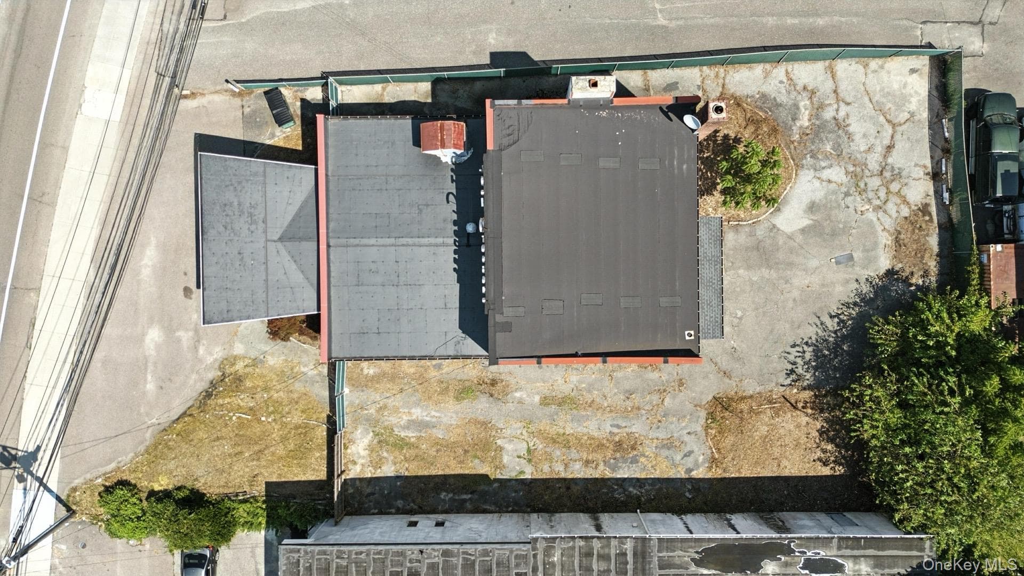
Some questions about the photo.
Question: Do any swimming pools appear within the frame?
No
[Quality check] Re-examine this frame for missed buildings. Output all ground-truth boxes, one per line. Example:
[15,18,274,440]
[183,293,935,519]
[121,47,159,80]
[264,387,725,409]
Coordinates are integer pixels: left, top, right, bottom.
[281,509,933,576]
[199,76,728,365]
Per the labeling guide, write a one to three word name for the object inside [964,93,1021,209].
truck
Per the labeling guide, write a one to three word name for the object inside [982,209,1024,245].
trailer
